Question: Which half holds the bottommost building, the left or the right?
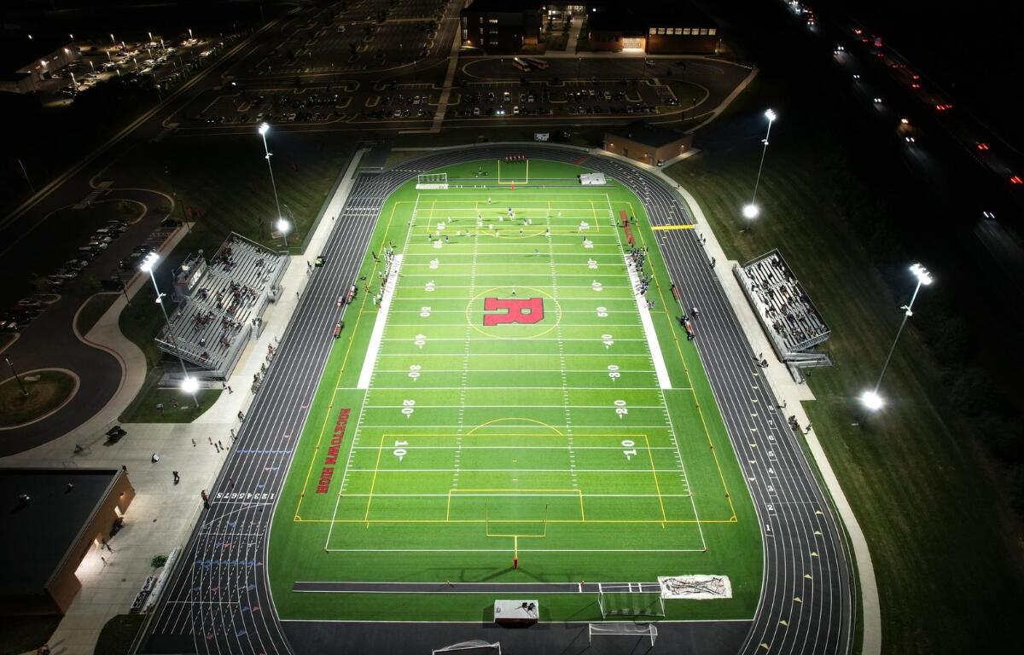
left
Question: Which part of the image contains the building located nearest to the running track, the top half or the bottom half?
top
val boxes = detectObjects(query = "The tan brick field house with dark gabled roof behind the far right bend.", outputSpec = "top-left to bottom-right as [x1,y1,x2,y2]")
[605,121,697,166]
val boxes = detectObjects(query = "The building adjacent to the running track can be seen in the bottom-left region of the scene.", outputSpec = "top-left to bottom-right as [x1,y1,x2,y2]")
[0,463,137,614]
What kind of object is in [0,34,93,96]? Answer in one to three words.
building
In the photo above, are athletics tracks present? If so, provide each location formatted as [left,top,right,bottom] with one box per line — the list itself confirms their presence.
[135,147,849,655]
